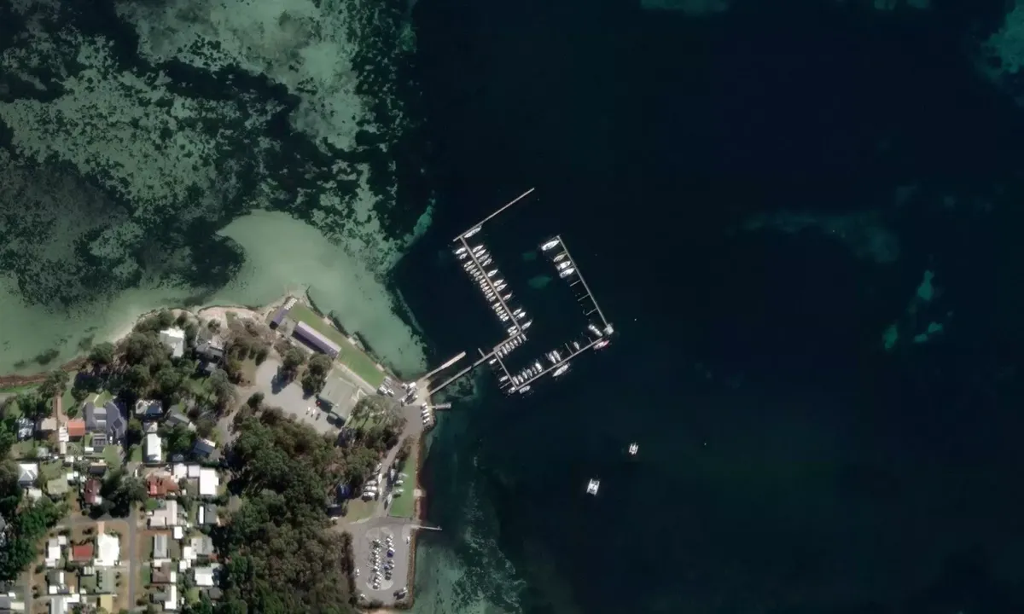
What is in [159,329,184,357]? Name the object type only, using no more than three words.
house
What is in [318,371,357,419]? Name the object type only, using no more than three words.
building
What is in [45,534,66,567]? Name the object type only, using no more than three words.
house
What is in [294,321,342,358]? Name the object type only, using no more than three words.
shed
